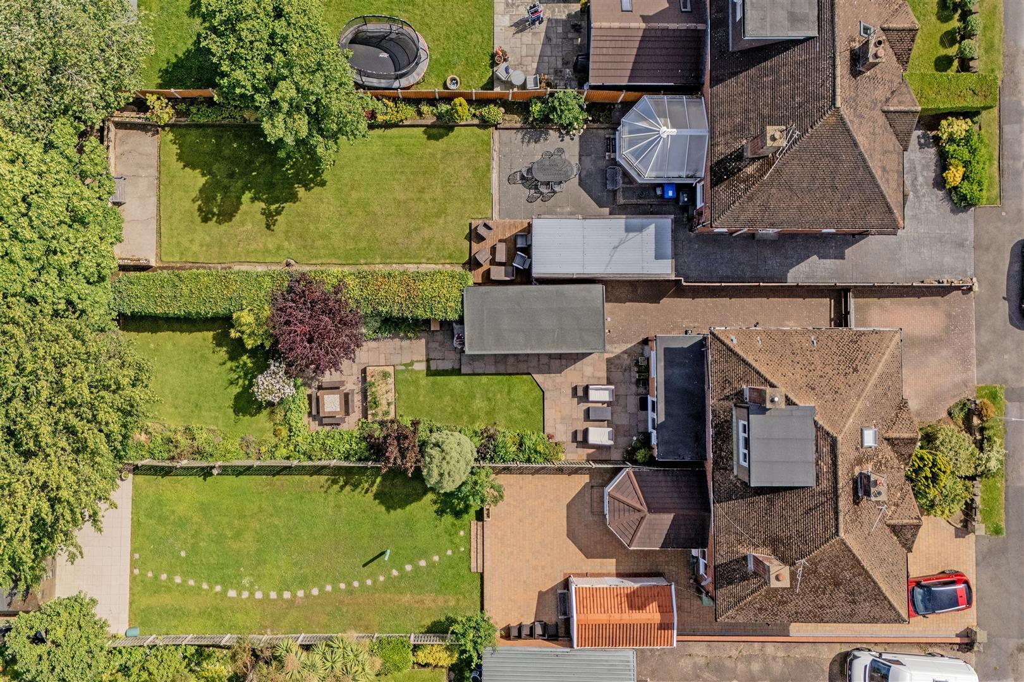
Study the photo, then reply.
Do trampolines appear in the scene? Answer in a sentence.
Yes, there's a trampoline here.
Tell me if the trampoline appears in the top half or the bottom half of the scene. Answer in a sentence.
The top half of the photo is where the trampoline is.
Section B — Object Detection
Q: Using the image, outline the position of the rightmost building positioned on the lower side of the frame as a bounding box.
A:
[696,327,924,625]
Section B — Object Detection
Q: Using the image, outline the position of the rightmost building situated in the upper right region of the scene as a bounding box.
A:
[692,0,922,249]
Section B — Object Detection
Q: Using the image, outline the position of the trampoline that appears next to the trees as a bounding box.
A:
[338,14,431,90]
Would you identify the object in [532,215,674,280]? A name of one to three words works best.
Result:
building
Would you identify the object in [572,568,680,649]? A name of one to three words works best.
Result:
building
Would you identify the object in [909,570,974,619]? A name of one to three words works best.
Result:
car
